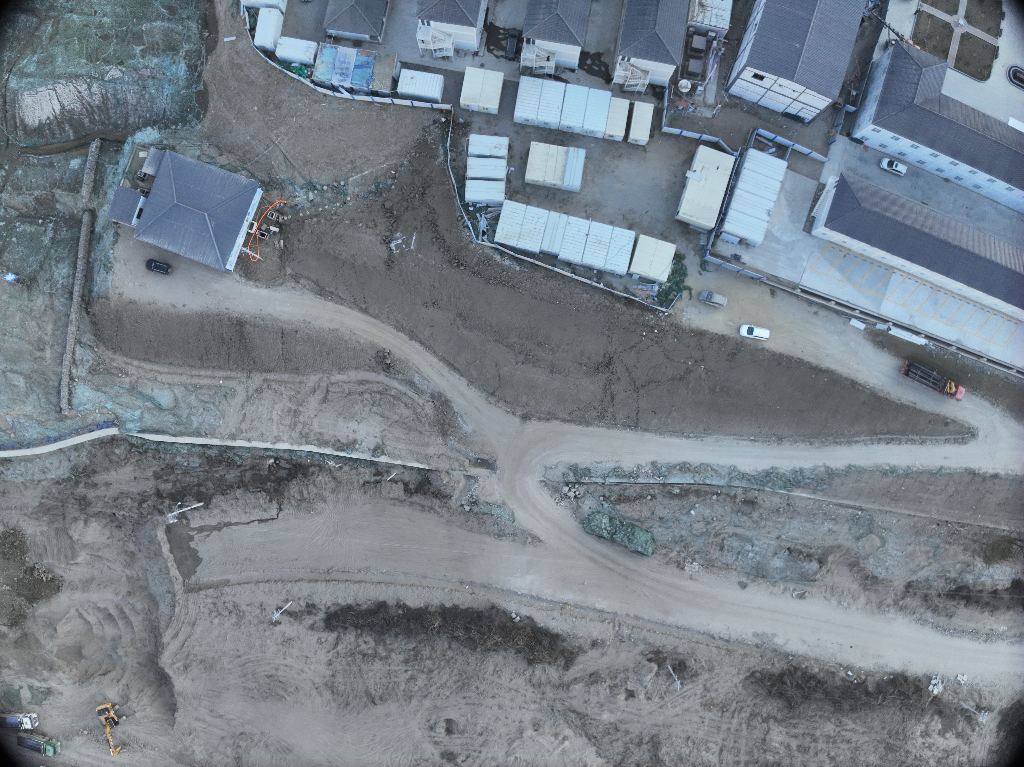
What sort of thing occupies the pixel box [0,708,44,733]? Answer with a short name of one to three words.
truck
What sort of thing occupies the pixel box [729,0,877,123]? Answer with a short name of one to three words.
warehouse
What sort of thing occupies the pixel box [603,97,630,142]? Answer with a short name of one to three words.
building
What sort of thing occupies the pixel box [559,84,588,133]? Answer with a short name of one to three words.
building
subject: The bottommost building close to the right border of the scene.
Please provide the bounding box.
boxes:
[804,173,1024,321]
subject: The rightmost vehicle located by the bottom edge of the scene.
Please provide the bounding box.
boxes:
[96,700,130,754]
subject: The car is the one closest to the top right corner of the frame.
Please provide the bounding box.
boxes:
[877,158,908,178]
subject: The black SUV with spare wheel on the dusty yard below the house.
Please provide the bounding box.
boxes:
[145,258,174,276]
